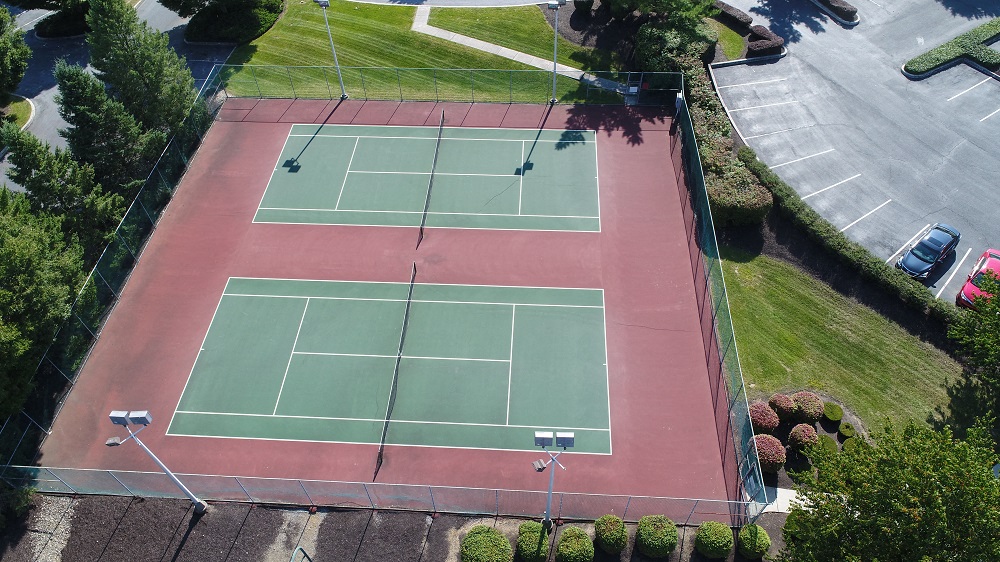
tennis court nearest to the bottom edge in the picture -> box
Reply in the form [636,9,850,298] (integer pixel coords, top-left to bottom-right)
[166,278,612,454]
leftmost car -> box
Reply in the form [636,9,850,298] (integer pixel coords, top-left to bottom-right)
[899,224,962,280]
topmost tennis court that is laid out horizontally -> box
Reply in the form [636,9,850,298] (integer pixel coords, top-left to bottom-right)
[253,124,601,233]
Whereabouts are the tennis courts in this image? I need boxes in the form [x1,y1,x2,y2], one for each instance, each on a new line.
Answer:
[253,124,601,233]
[166,278,612,454]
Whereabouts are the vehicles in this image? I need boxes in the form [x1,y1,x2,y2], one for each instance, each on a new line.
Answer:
[899,224,962,280]
[950,251,1000,308]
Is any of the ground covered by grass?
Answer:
Yes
